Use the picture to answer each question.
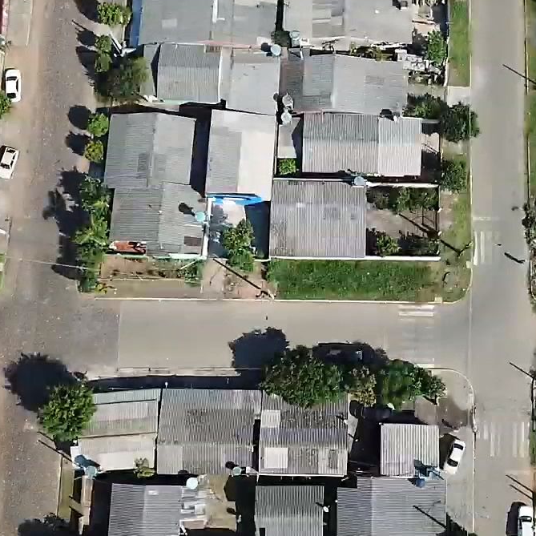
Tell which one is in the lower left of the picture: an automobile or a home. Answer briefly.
home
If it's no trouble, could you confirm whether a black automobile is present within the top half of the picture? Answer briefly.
No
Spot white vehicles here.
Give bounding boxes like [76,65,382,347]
[516,505,535,536]
[442,437,466,476]
[0,146,18,179]
[3,71,21,102]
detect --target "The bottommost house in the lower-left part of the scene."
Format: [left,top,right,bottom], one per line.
[108,484,182,536]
